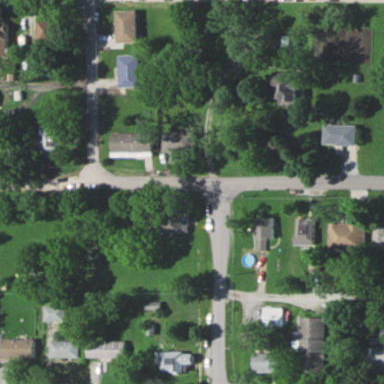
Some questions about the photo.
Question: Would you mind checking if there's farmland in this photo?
No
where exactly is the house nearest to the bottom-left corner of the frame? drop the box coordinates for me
[0,339,34,358]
